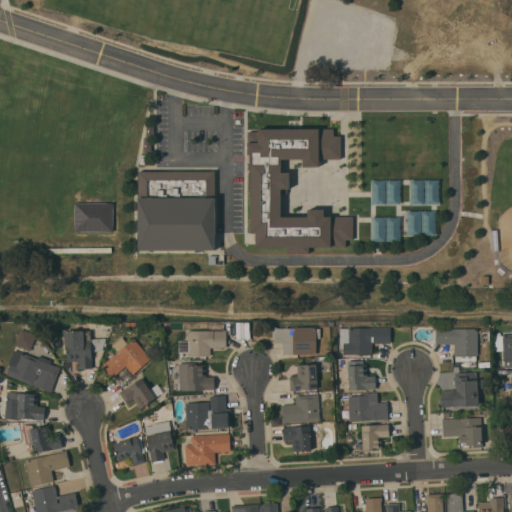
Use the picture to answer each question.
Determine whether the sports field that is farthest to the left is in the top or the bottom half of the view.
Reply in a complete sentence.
You can find the sports field that is farthest to the left in the top half.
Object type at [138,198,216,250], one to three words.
building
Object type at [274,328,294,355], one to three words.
building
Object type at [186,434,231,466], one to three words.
house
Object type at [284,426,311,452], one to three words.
house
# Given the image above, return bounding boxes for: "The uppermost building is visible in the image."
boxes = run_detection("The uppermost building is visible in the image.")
[322,129,342,159]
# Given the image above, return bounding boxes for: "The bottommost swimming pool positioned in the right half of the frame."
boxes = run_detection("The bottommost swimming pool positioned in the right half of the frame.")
[321,426,334,448]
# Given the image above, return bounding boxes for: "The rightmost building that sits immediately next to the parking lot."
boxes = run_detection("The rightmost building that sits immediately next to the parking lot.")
[247,129,331,254]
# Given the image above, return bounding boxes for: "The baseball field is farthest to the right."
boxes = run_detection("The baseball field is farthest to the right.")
[490,138,512,274]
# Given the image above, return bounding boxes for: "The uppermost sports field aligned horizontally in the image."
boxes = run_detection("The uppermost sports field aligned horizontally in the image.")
[44,0,296,65]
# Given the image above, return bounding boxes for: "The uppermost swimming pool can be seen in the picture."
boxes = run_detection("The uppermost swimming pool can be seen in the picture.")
[414,328,435,342]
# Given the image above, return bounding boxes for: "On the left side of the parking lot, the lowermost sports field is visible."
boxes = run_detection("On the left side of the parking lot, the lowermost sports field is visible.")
[0,39,154,252]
